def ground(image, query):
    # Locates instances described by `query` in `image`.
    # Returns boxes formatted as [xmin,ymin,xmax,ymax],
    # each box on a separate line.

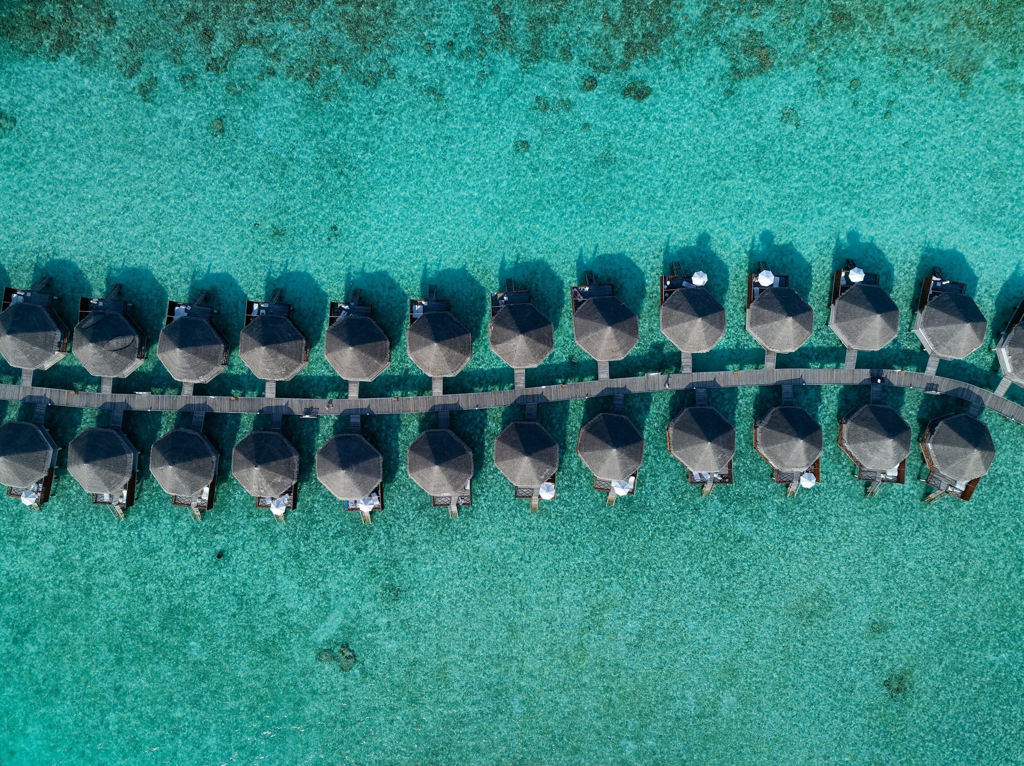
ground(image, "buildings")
[157,287,239,385]
[67,425,148,519]
[238,285,315,383]
[0,273,73,372]
[492,420,561,512]
[71,282,157,379]
[746,404,823,497]
[740,259,815,355]
[984,287,1024,375]
[315,432,385,524]
[656,260,727,355]
[0,418,69,514]
[148,426,227,521]
[323,286,397,383]
[574,411,647,505]
[821,256,901,352]
[911,410,999,506]
[486,275,556,371]
[661,405,736,498]
[903,263,988,362]
[232,428,306,521]
[405,283,475,379]
[829,402,912,495]
[571,269,640,364]
[406,428,476,520]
